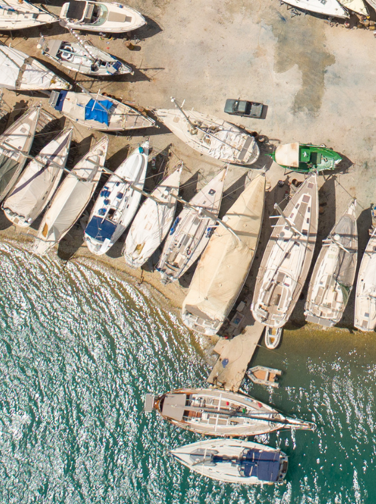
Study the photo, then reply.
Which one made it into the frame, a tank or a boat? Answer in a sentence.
There is a boat in the scene.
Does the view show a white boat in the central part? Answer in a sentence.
Yes, the scene does show a white boat in the central part.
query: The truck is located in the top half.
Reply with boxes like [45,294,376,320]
[226,96,268,120]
